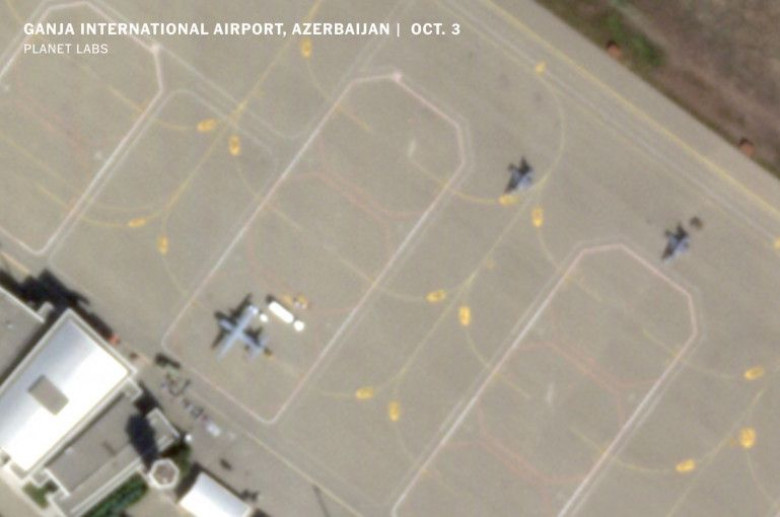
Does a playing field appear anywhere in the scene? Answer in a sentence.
No, no playing field is visible in the scene.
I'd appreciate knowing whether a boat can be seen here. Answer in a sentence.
No, there is no boat in the image.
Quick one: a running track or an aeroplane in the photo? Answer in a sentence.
There is an aeroplane in the scene.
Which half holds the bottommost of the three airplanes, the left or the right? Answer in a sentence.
It is on the left.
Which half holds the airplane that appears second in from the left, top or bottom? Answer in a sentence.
The airplane that appears second in from the left is in the top half of the image.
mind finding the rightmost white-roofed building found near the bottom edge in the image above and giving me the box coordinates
[177,472,250,517]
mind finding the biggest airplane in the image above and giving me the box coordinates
[218,306,269,360]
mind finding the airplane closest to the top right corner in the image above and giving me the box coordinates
[667,229,693,257]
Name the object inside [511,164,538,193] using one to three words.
airplane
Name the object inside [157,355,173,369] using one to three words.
vehicle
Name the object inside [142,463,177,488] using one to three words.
building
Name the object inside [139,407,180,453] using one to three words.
building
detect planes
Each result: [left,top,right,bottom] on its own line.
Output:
[511,164,538,193]
[218,306,269,360]
[667,229,693,257]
